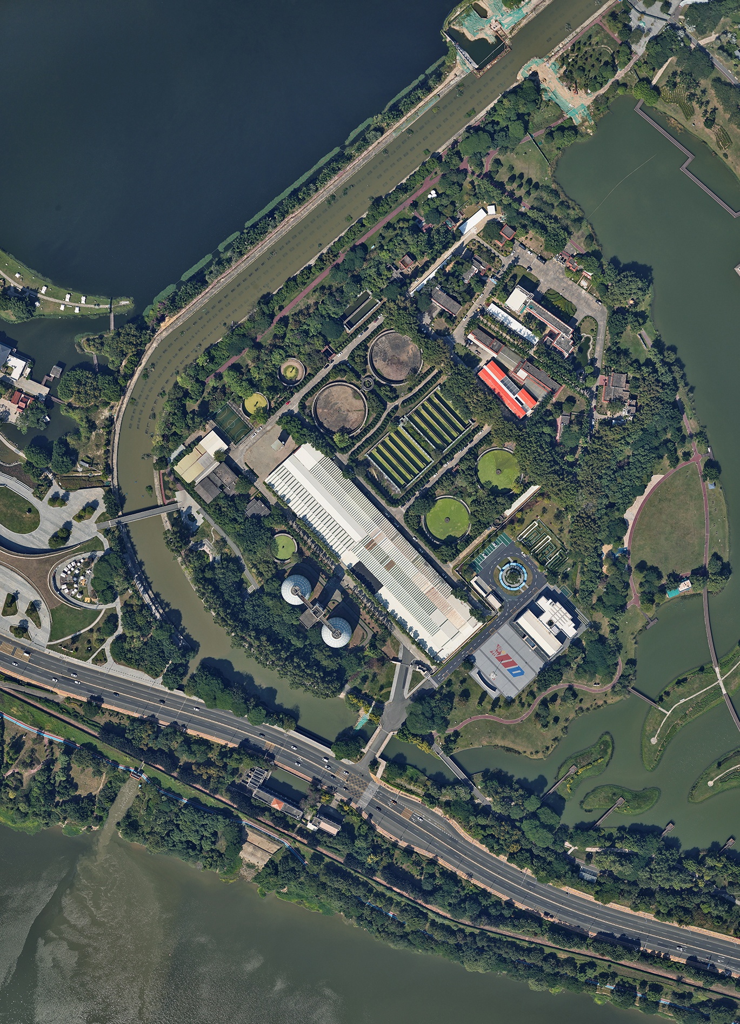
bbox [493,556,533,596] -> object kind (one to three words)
roundabout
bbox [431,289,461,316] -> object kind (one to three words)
building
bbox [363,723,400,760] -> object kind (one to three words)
bridge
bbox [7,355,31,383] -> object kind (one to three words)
house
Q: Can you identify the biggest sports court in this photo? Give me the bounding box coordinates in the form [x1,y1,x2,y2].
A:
[210,402,253,448]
